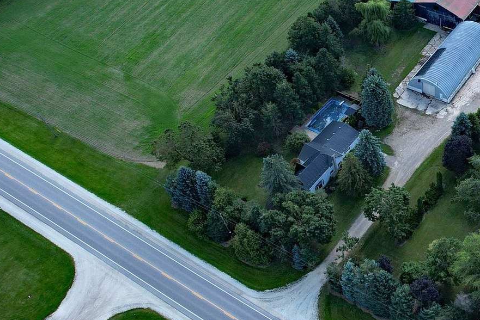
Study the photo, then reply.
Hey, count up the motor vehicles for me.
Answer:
0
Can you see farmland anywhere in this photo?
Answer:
Yes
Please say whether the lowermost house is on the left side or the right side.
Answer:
right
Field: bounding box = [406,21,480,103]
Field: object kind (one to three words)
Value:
shed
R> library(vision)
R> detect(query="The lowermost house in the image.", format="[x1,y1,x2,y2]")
[291,121,363,198]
